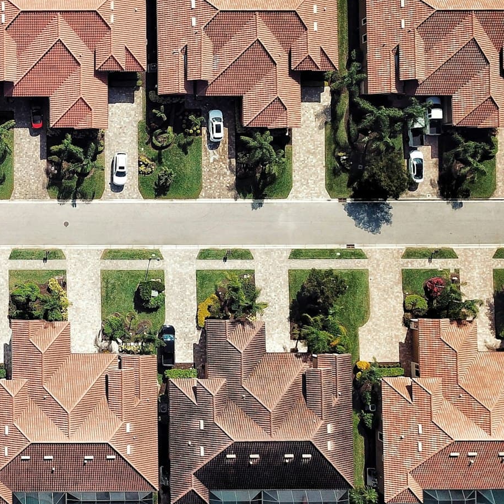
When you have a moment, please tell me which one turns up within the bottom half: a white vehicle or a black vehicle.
black vehicle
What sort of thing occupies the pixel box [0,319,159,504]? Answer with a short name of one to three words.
house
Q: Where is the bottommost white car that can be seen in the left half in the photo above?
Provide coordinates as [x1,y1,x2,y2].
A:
[112,152,128,185]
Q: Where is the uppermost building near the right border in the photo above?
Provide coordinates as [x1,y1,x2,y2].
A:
[359,0,504,128]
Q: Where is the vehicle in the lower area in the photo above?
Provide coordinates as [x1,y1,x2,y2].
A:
[160,323,177,366]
